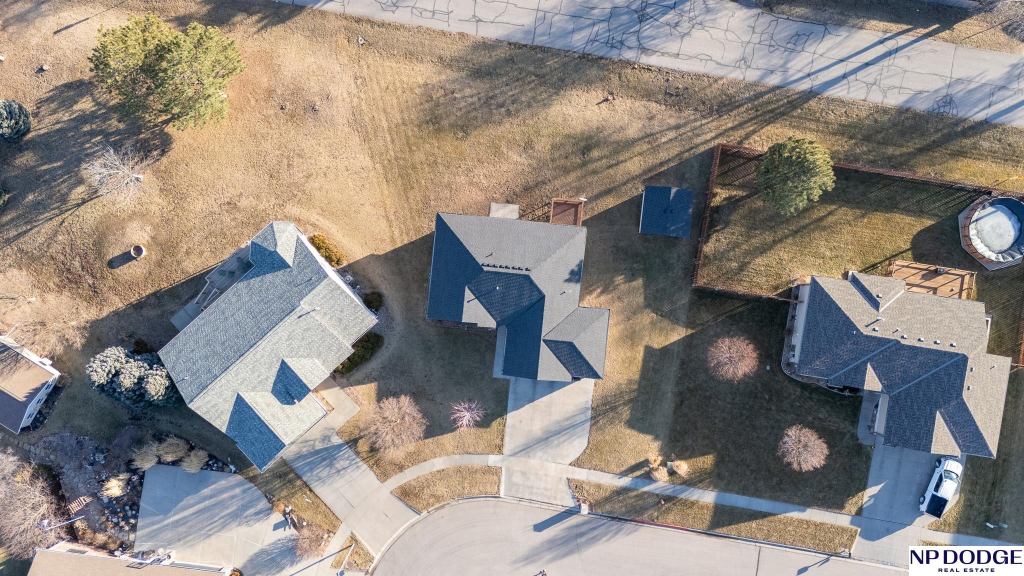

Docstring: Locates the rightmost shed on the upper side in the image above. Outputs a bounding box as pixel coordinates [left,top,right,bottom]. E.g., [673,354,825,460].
[638,185,695,238]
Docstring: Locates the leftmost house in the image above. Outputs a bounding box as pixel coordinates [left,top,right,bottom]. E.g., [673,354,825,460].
[0,332,64,435]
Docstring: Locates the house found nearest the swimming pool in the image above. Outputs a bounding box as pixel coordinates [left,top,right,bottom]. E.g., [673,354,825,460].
[787,271,1013,459]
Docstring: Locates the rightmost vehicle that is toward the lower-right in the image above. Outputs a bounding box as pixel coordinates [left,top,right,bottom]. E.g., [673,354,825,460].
[919,454,965,522]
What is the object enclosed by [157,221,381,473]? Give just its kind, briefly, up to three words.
house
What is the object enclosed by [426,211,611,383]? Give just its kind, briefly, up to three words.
house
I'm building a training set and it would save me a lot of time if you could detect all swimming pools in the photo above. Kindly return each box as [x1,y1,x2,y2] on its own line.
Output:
[953,182,1024,271]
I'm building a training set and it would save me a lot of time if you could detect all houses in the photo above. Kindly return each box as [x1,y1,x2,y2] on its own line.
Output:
[26,541,237,576]
[0,332,64,435]
[157,221,381,473]
[787,271,1013,459]
[426,211,611,383]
